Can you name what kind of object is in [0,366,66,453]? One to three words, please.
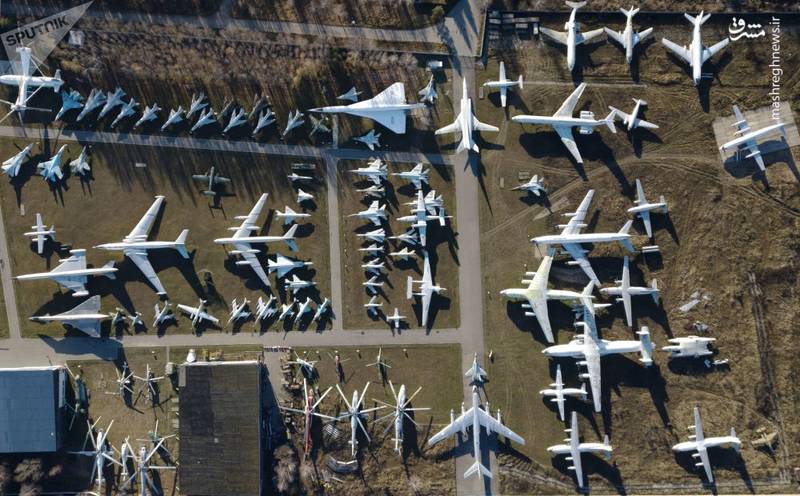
hangar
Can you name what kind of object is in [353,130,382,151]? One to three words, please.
airplane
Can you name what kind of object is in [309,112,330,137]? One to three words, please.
airplane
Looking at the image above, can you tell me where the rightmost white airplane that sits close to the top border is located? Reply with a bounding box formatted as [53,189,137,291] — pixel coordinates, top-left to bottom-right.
[666,11,733,85]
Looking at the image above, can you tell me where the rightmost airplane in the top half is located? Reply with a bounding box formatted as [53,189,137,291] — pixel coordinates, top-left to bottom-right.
[722,104,790,171]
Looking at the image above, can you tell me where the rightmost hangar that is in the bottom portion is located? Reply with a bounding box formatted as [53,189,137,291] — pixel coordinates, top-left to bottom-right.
[179,360,263,496]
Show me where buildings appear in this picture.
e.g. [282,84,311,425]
[70,31,86,48]
[0,366,66,453]
[179,360,263,496]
